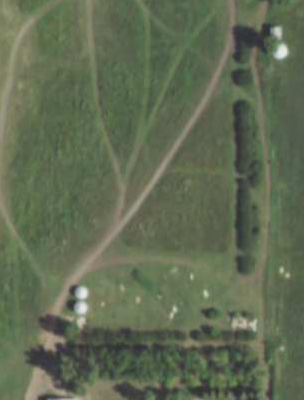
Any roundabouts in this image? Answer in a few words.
No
